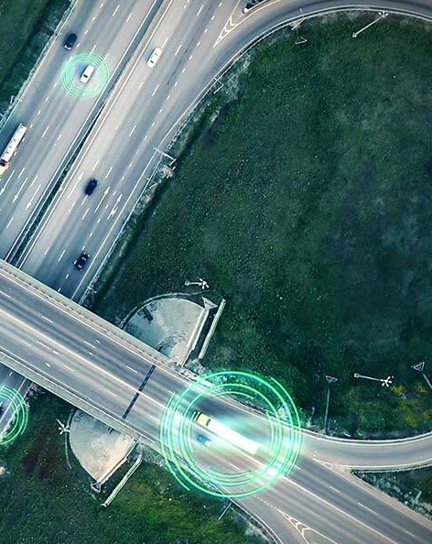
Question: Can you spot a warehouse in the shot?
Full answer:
No, there appears to be no warehouse in this shot.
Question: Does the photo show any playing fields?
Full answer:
No, no playing field is visible in the view.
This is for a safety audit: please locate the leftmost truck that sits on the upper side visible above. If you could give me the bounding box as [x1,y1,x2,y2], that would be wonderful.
[0,123,27,176]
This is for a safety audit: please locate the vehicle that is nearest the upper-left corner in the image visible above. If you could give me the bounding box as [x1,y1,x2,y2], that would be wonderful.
[63,30,78,50]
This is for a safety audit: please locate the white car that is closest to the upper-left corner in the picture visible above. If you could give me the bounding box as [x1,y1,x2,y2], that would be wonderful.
[79,64,94,85]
